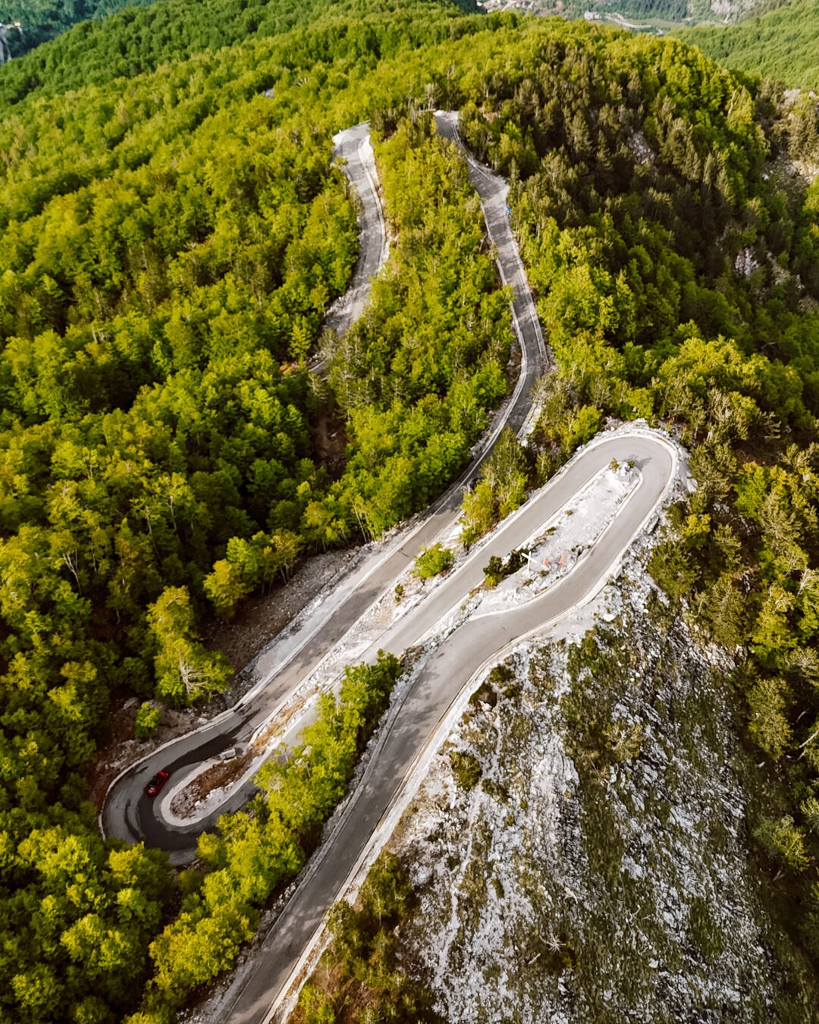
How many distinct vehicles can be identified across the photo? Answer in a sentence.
The picture shows 1 vehicle.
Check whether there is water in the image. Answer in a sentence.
No, there's no water in this view.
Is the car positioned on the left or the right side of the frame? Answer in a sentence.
It is on the left.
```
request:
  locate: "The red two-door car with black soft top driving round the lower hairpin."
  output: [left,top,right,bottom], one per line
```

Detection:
[144,771,171,795]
